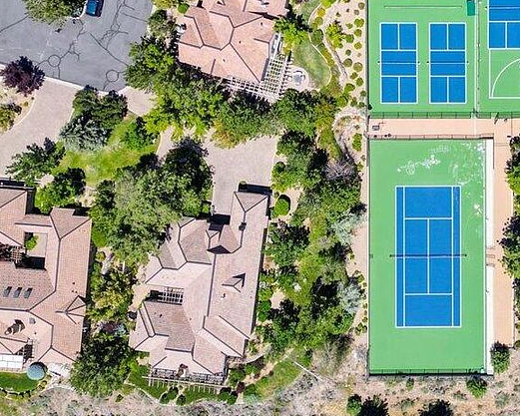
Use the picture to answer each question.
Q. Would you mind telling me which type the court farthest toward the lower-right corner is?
tennis court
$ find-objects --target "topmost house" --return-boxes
[178,0,293,82]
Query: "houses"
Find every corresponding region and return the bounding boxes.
[129,190,270,378]
[178,0,293,82]
[0,188,97,364]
